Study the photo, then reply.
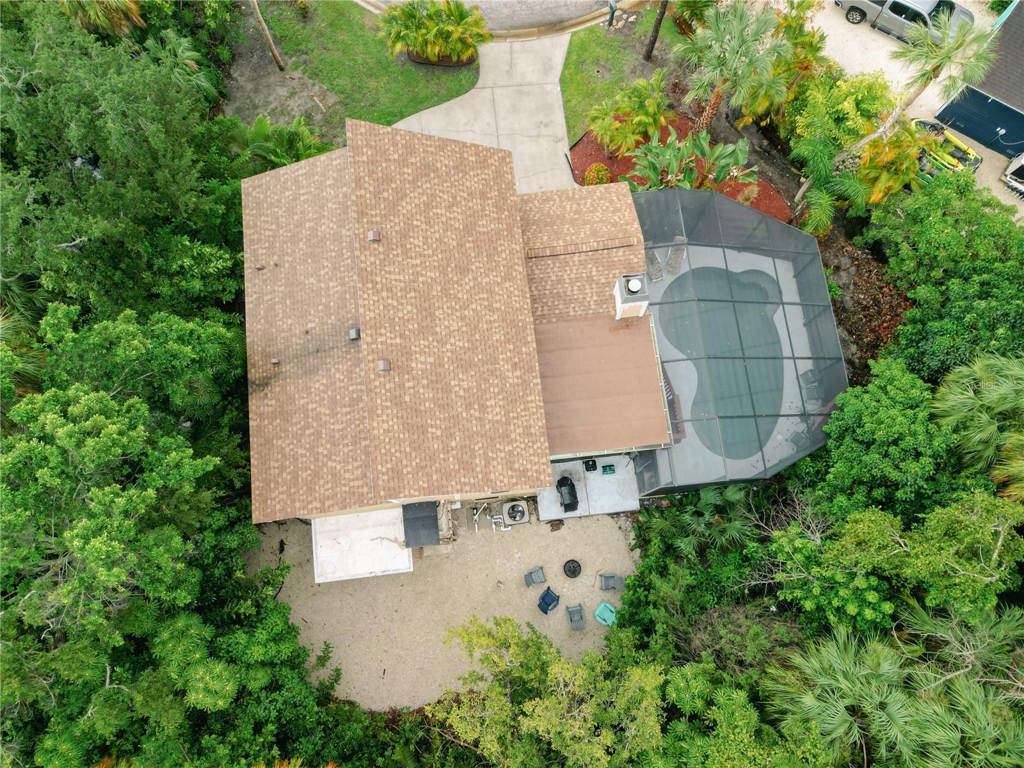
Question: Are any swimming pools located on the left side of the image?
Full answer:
No, looking on the left side of the image, there is no swimming pool.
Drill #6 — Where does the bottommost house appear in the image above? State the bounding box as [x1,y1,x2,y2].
[242,120,675,583]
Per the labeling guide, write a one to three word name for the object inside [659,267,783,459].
swimming pool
